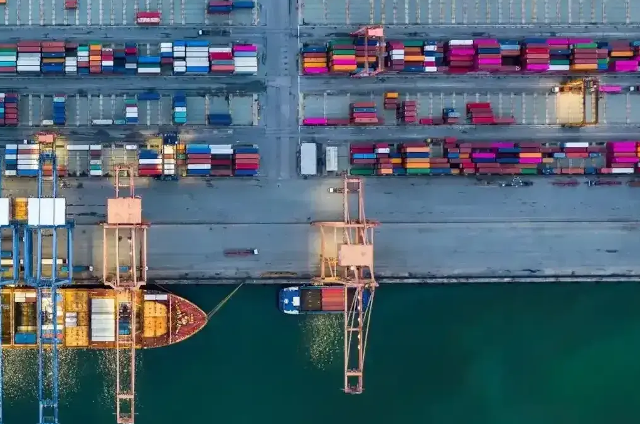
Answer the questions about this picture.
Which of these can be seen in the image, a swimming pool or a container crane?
container crane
